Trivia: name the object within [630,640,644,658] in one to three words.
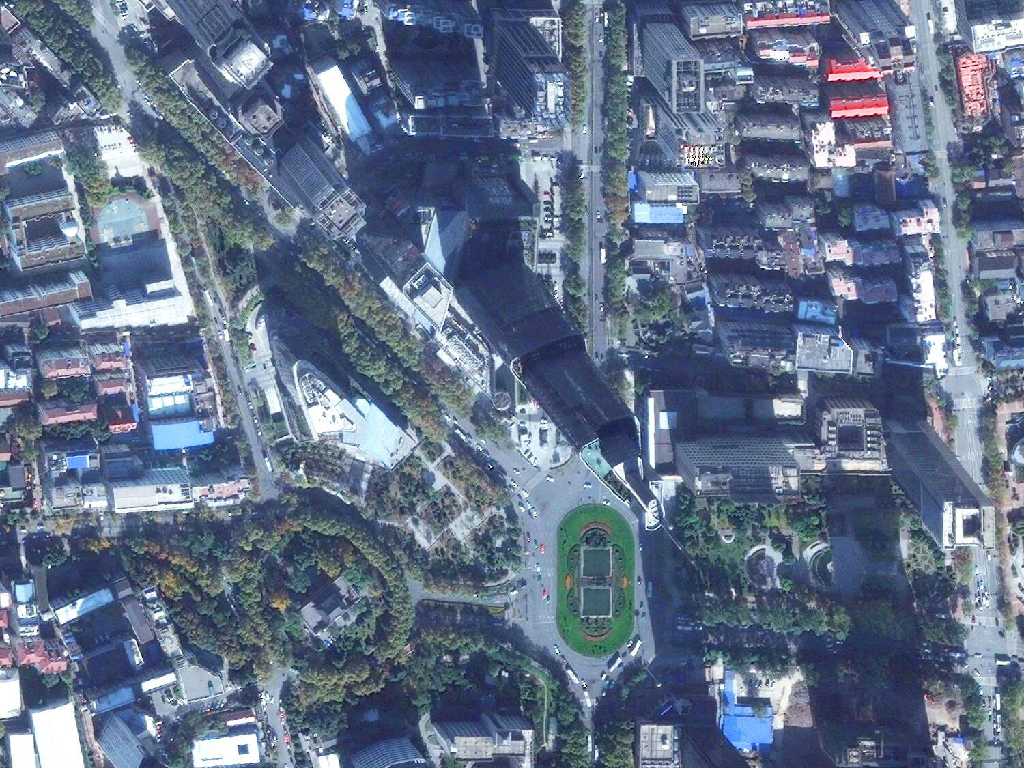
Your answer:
vehicle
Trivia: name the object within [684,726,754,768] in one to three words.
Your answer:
building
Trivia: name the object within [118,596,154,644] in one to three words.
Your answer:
shed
